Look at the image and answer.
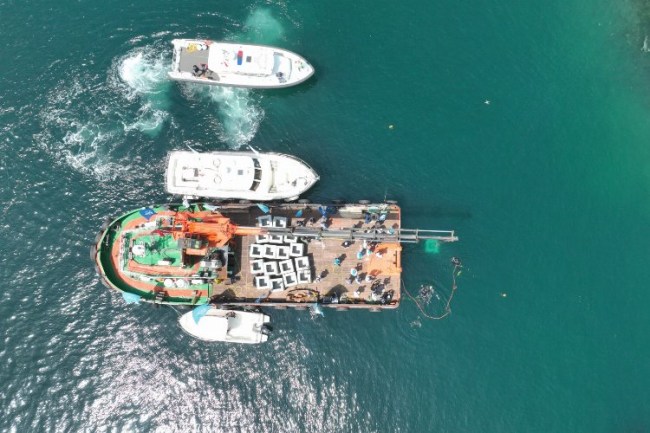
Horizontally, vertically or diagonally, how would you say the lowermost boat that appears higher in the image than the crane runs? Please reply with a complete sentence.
The lowermost boat that appears higher in the image than the crane is oriented horizontally.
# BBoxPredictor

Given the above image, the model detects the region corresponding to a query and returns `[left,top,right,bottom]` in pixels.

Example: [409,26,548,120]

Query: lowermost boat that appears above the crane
[168,145,324,201]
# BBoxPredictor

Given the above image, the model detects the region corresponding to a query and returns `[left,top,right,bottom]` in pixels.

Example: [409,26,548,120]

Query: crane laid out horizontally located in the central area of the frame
[175,211,461,255]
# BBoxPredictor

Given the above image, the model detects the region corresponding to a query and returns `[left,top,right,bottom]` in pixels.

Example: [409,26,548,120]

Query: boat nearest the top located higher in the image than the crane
[169,39,315,86]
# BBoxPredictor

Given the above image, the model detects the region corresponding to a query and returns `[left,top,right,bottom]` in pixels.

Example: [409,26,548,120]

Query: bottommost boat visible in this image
[166,305,271,343]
